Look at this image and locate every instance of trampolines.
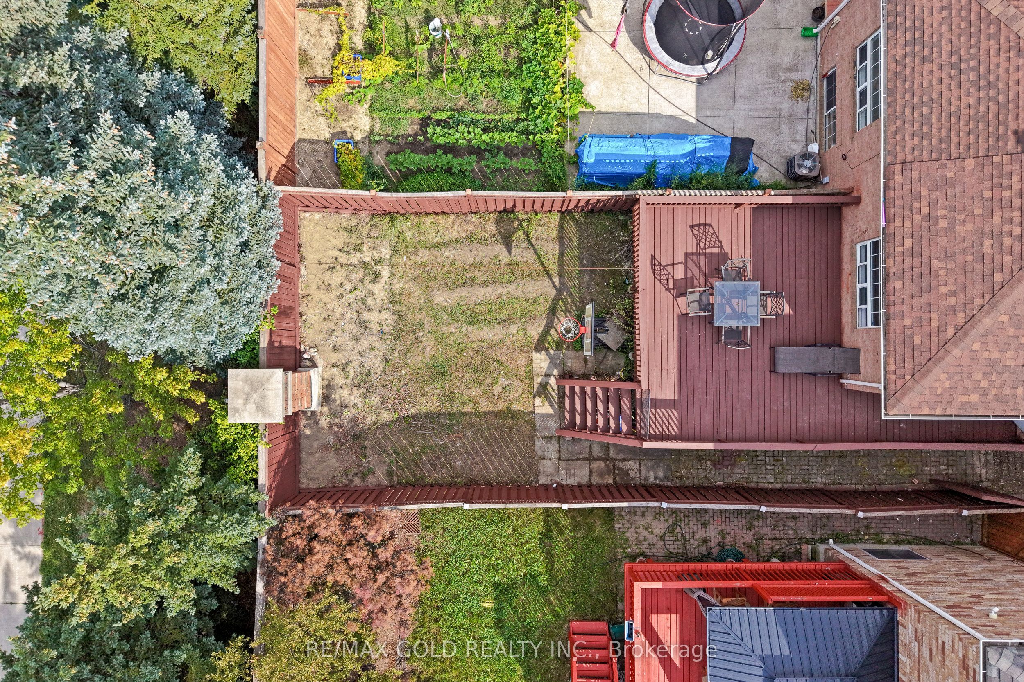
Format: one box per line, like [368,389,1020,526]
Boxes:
[636,0,764,95]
